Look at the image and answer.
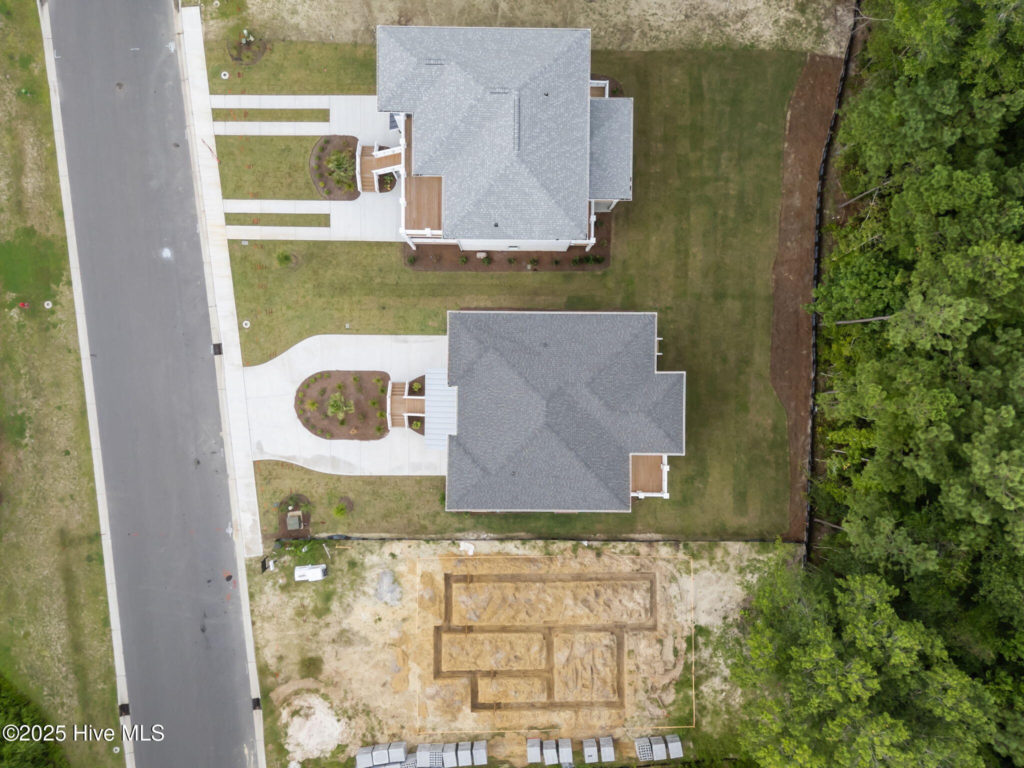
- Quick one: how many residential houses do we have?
2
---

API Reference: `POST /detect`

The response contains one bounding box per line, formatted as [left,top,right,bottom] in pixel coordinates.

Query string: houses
[357,26,633,253]
[387,311,685,512]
